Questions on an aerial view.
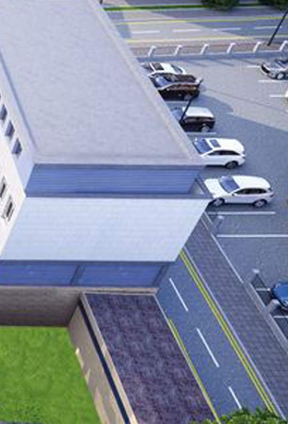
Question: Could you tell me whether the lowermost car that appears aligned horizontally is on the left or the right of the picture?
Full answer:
The lowermost car that appears aligned horizontally sits on the right side.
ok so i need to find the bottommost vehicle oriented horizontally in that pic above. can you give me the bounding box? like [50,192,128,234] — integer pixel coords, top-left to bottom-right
[210,176,288,208]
